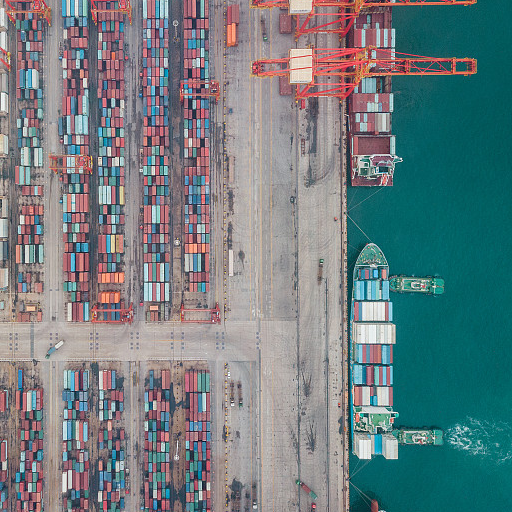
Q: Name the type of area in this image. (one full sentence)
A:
It's a port.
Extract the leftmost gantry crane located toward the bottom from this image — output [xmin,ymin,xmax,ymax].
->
[91,301,134,323]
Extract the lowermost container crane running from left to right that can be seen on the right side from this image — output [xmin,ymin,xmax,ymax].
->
[251,42,478,106]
